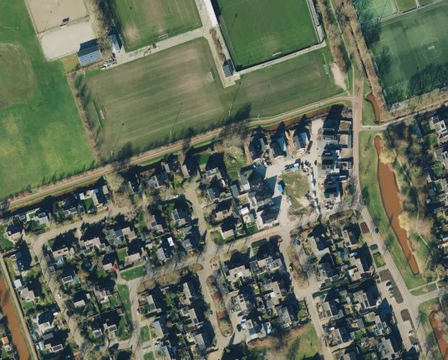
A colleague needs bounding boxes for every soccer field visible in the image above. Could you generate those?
[214,0,319,67]
[110,0,201,53]
[226,47,342,116]
[369,0,448,104]
[351,0,401,24]
[80,40,230,161]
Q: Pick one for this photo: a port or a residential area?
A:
residential area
